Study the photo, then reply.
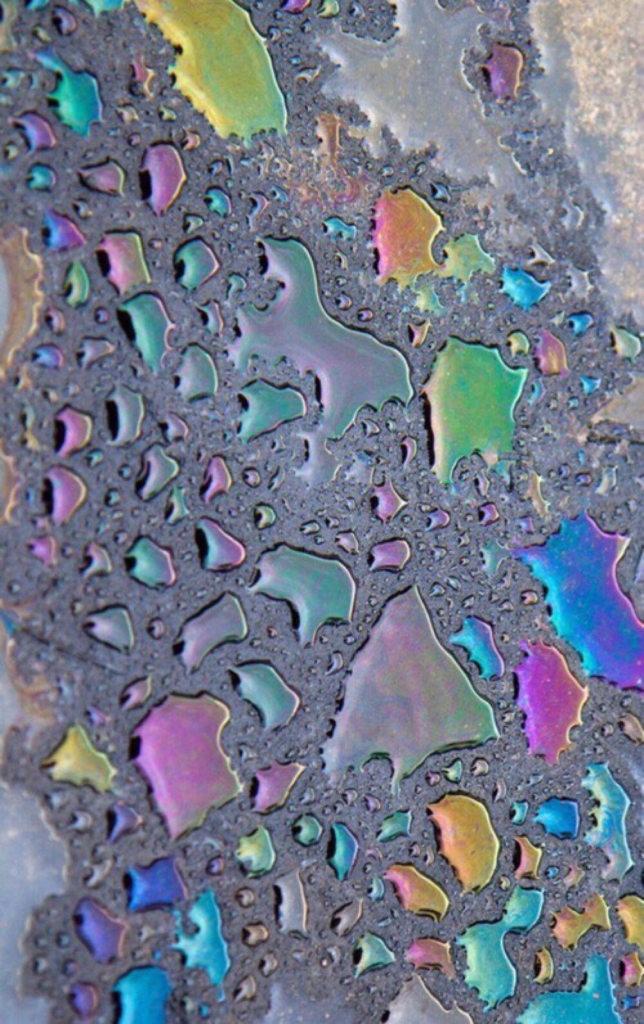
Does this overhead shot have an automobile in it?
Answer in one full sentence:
No, the frame has no automobile in it.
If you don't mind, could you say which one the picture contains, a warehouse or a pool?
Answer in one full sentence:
The image shows a pool.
